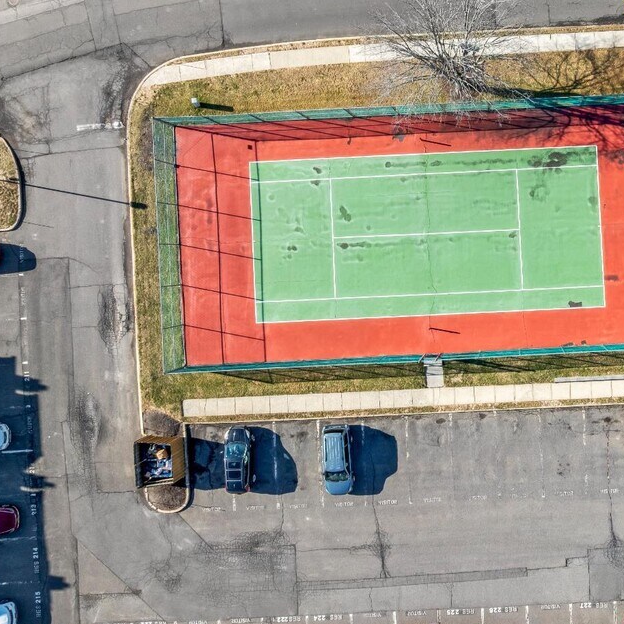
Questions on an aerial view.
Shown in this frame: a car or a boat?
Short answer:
car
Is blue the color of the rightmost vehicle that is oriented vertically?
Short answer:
Yes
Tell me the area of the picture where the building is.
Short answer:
bottom left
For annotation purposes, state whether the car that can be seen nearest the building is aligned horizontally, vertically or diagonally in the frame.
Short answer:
vertically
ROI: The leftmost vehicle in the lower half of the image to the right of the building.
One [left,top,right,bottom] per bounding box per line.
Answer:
[219,424,255,495]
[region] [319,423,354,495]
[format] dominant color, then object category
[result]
blue vehicle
